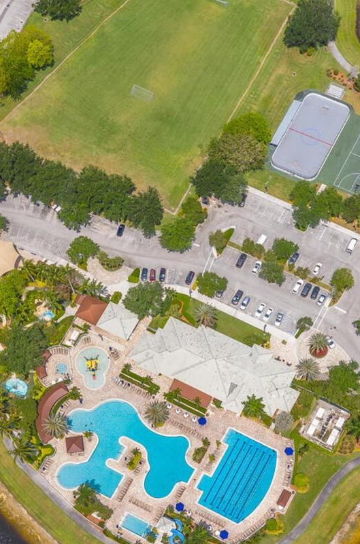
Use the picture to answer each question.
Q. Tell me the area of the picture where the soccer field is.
top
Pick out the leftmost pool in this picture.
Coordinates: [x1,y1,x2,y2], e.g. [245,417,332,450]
[4,378,29,397]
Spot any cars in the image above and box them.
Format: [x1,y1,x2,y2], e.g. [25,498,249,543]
[236,253,246,268]
[149,268,156,282]
[292,279,303,294]
[184,270,195,285]
[302,283,311,298]
[310,285,320,300]
[289,252,299,265]
[274,312,284,326]
[312,262,322,277]
[159,268,166,282]
[252,260,262,275]
[240,296,251,311]
[215,287,225,301]
[116,223,124,238]
[316,293,326,308]
[239,193,247,207]
[141,268,148,282]
[232,289,242,304]
[255,302,264,317]
[324,334,337,349]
